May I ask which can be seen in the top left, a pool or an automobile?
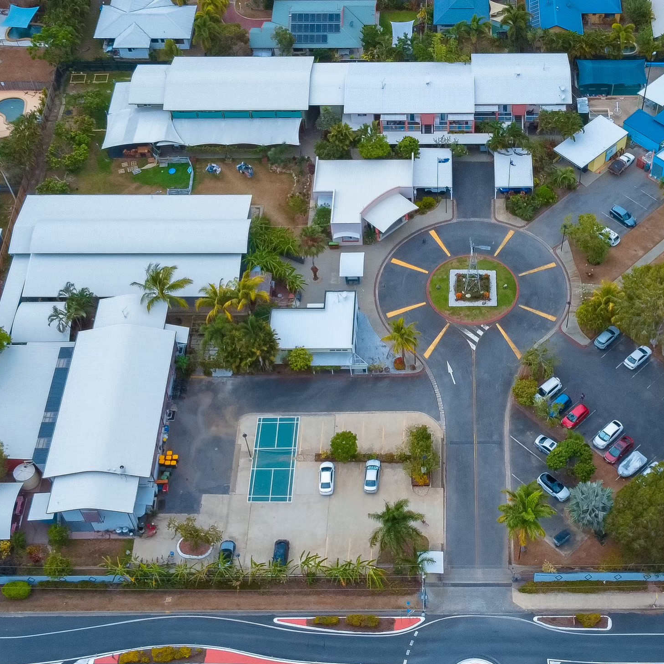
pool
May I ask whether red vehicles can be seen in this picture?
Yes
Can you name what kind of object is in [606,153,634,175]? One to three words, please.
truck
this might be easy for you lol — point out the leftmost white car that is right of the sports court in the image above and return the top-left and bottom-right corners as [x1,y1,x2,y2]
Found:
[318,461,335,496]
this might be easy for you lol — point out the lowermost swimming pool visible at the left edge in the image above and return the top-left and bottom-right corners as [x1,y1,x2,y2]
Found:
[0,97,27,123]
